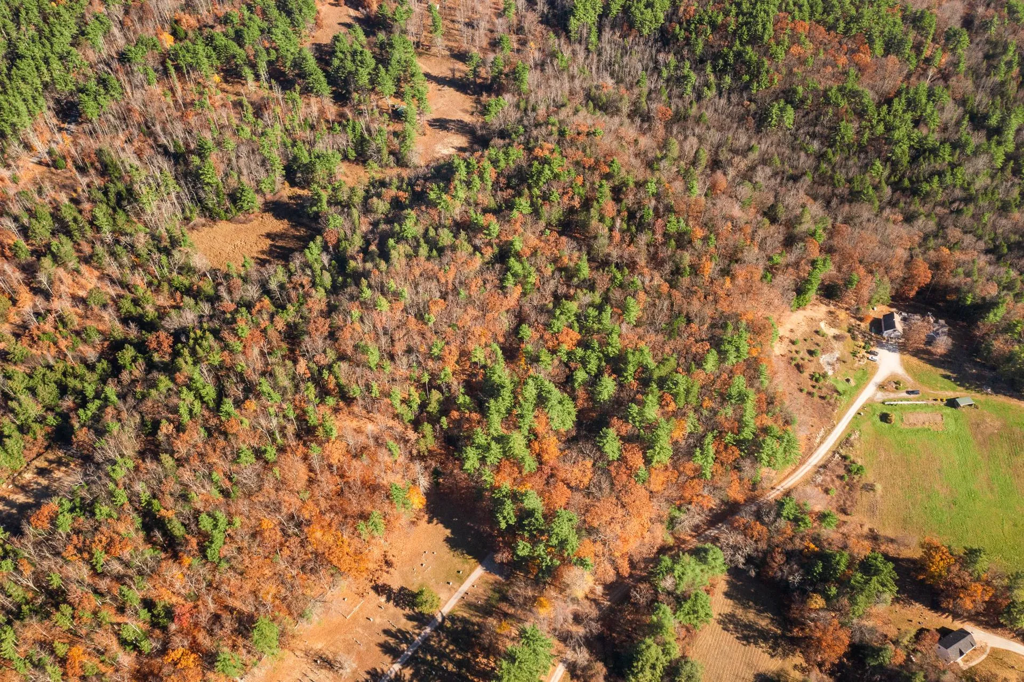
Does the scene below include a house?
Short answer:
Yes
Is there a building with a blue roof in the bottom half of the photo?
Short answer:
No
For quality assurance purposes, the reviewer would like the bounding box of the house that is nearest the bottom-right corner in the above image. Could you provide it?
[933,625,977,665]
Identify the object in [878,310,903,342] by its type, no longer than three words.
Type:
barn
